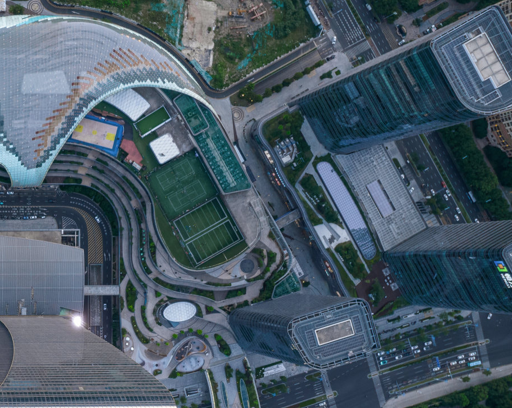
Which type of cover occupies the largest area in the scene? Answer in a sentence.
What you mostly see from above here is buildings.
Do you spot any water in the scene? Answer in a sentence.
No, the picture contains no water.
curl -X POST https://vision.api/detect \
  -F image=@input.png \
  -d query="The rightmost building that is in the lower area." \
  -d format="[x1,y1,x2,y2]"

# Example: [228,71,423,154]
[385,205,512,314]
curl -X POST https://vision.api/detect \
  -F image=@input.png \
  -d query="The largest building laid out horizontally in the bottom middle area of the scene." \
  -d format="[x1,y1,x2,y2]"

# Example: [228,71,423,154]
[231,296,383,369]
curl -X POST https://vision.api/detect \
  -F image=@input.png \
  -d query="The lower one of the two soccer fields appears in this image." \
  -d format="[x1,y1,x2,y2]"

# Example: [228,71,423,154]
[186,220,240,265]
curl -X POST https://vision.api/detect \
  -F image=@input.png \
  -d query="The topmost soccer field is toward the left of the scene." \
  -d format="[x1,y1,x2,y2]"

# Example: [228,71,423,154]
[172,197,227,241]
